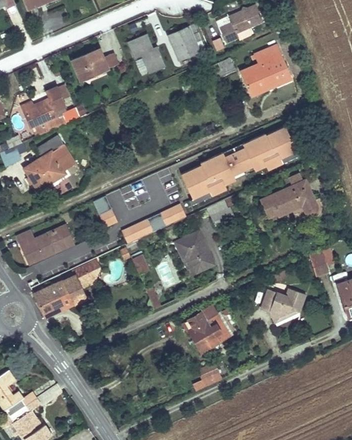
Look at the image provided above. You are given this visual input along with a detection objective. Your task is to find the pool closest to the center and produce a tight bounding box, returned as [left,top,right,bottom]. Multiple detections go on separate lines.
[155,254,180,290]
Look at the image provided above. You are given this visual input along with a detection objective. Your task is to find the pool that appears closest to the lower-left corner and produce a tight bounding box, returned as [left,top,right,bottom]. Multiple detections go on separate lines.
[102,257,126,286]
